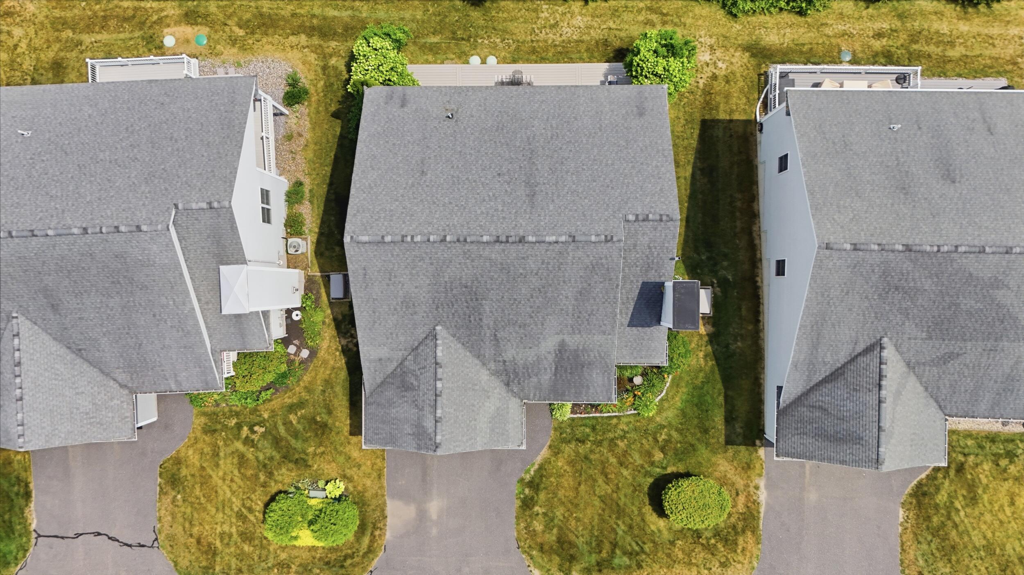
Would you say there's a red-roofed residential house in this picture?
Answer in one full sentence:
No, there's no red-roofed residential house here.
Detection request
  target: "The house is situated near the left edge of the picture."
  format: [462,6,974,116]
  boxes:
[0,75,301,452]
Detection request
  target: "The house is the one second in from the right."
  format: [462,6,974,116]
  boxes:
[344,86,701,455]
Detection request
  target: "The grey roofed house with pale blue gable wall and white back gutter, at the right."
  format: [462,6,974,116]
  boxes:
[758,87,1024,465]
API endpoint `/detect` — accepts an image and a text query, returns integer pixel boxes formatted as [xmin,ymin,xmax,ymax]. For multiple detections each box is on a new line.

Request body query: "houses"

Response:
[758,87,1024,465]
[344,86,701,455]
[0,75,301,452]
